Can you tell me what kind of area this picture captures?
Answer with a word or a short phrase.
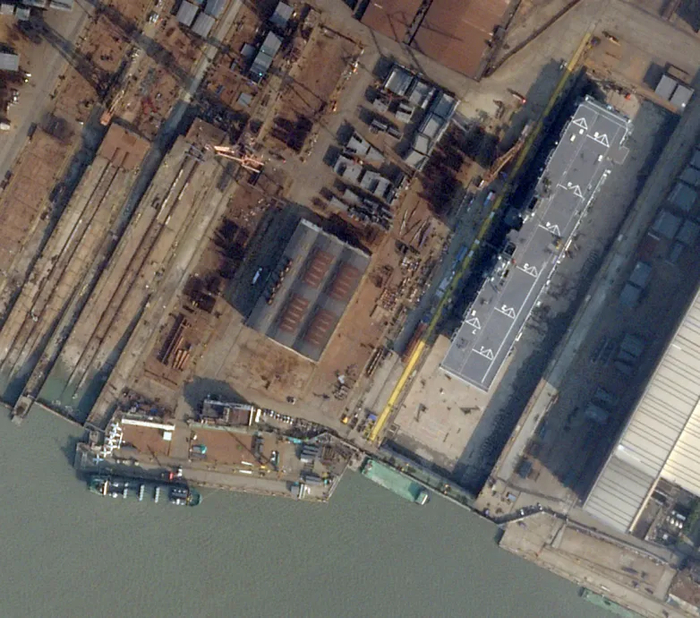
port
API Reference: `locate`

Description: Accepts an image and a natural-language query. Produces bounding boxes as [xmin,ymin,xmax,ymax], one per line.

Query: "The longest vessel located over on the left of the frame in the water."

[88,479,201,507]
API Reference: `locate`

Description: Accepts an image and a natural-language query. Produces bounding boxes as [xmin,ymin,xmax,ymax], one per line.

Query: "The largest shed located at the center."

[245,218,375,364]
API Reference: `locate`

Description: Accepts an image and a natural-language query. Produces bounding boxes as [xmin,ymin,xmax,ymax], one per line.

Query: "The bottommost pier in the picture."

[500,512,700,618]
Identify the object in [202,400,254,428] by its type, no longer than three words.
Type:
building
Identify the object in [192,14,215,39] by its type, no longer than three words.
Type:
shed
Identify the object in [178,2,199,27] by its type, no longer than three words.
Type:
shed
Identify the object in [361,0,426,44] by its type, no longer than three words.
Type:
building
